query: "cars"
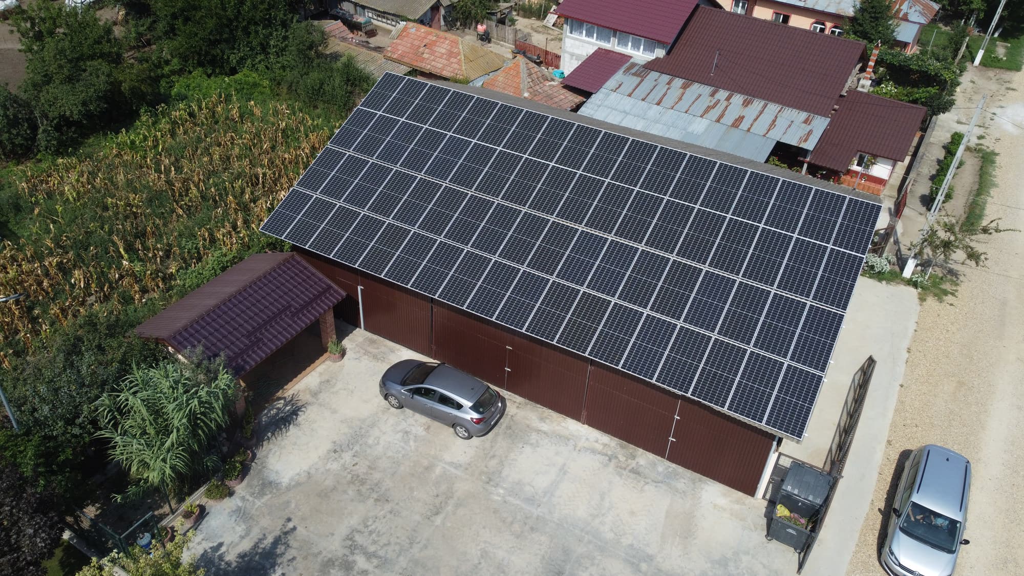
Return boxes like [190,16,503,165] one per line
[879,451,970,576]
[383,358,506,440]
